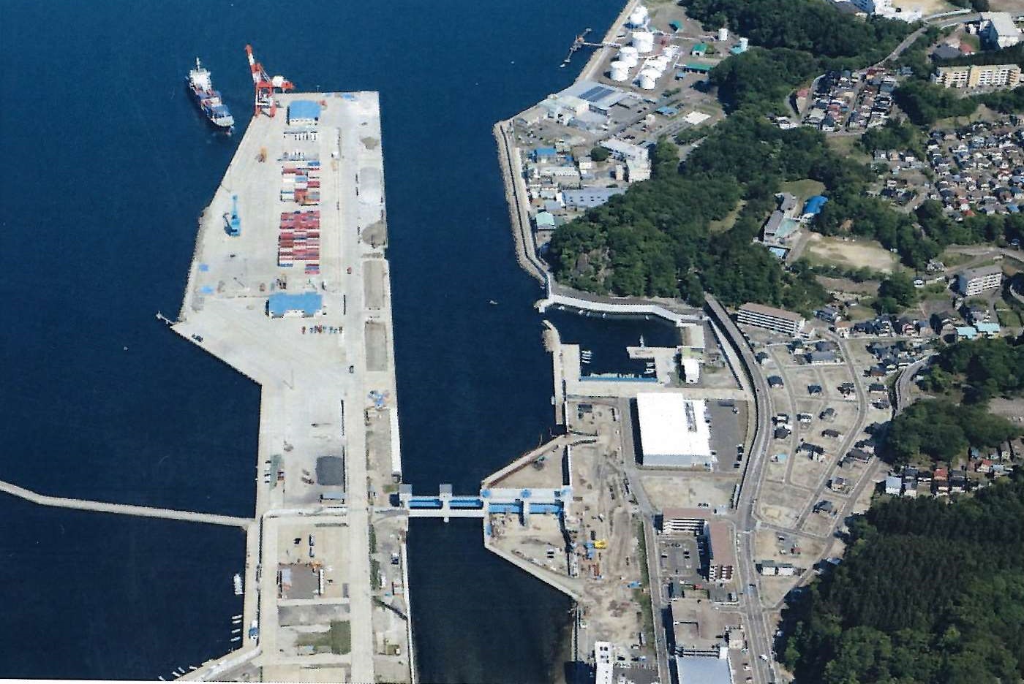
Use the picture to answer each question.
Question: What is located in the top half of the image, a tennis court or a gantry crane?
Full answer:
Visible in the top half of the image is a gantry crane.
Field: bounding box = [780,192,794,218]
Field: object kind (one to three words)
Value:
building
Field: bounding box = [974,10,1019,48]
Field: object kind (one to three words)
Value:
building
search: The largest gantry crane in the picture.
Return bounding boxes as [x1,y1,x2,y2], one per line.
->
[244,45,295,118]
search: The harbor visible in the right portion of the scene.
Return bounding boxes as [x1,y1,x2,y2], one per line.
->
[539,295,749,424]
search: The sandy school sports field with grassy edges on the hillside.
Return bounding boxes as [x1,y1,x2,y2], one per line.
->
[796,236,899,272]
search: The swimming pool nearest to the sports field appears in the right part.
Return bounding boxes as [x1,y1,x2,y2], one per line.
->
[773,246,789,259]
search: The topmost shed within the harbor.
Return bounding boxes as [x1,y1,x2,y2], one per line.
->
[683,359,699,386]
